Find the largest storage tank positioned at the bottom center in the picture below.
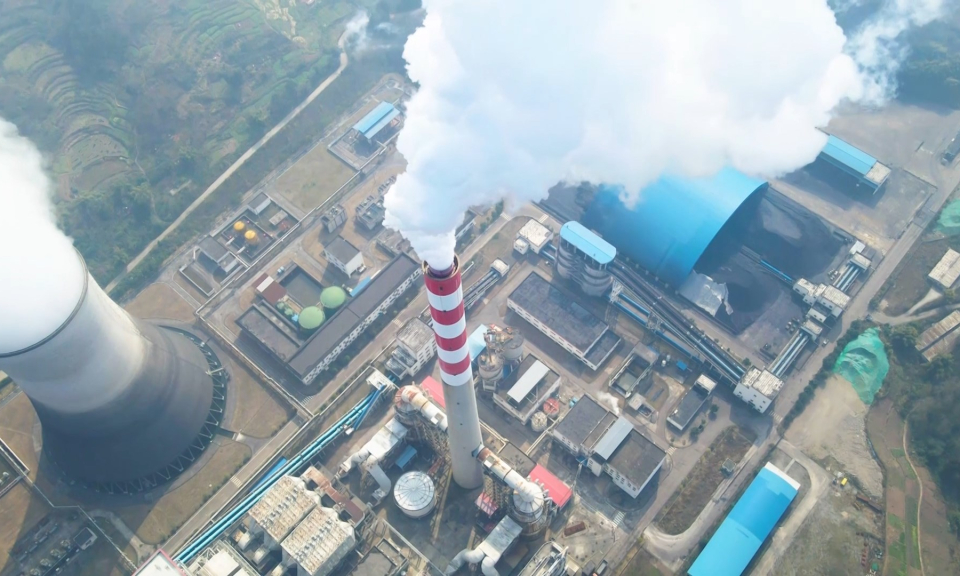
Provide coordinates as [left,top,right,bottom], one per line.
[395,472,437,515]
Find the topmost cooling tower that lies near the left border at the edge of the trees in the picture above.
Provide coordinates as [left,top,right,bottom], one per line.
[0,231,238,508]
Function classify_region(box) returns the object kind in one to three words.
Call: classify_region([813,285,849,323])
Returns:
house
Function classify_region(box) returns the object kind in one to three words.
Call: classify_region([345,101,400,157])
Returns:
shed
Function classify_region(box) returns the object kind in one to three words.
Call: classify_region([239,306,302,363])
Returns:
building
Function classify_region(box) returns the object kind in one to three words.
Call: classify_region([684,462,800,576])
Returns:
warehouse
